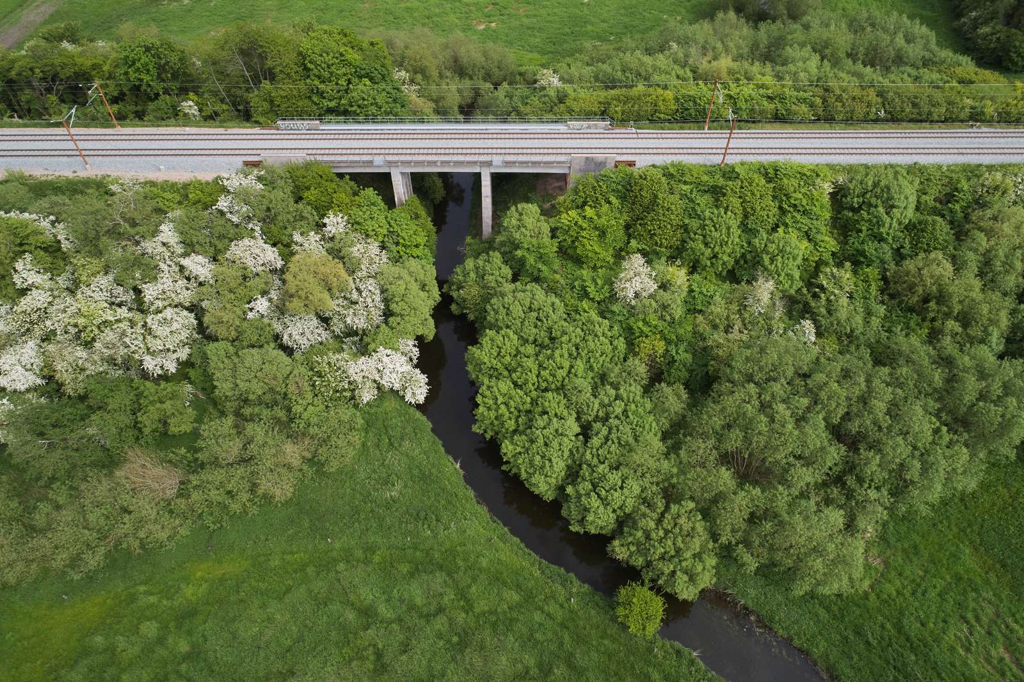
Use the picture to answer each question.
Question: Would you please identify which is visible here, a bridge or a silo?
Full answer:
There is a bridge in the scene.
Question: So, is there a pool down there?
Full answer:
No, this view has no pool in it.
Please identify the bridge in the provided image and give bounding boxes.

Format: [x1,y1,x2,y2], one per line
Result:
[253,115,619,235]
